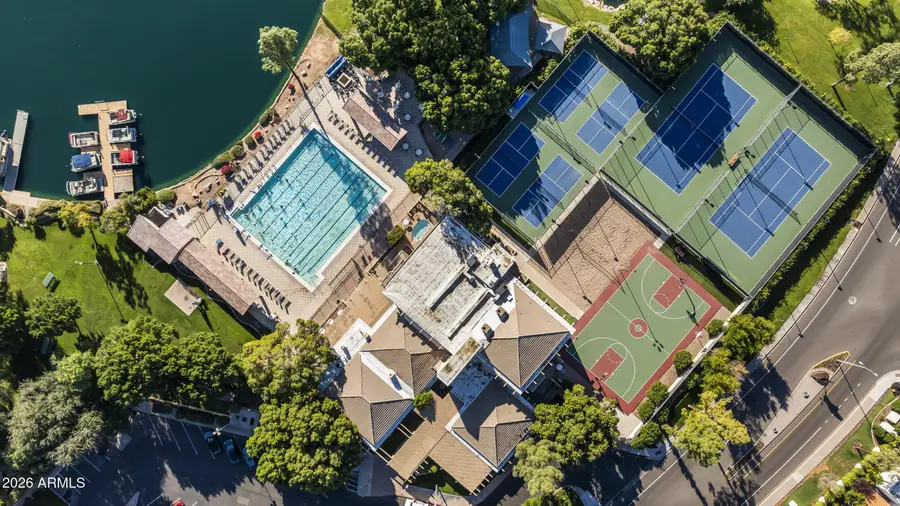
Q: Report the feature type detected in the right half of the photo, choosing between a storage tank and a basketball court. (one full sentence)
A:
Visible in the right half of the photo is a basketball court.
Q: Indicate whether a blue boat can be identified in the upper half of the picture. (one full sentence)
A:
Yes, in the upper half of the picture there is a blue boat.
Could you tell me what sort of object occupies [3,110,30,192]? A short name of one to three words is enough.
pier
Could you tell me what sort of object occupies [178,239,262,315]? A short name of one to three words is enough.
building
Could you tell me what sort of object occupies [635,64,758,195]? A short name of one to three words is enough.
tennis court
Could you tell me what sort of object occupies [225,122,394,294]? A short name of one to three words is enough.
swimming pool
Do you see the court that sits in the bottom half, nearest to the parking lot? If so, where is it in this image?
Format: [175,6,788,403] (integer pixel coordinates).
[557,241,722,415]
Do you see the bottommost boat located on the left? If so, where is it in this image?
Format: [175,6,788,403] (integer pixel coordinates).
[58,178,101,197]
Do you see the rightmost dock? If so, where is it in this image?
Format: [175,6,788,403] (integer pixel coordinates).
[75,100,133,200]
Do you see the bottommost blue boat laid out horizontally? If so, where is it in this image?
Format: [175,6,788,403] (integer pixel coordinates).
[63,154,101,171]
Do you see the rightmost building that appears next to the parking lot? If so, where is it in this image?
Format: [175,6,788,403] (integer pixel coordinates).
[311,216,574,473]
